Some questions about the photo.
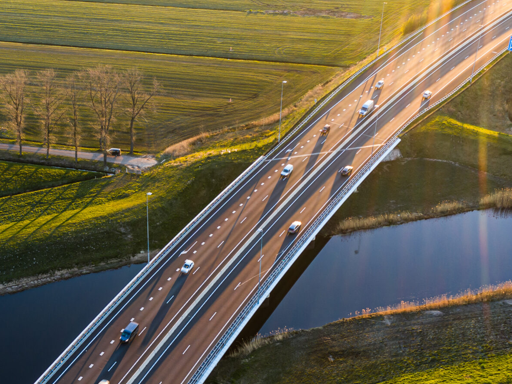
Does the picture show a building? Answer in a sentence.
No, there is no building in the image.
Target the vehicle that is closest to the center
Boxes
[280,163,293,177]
